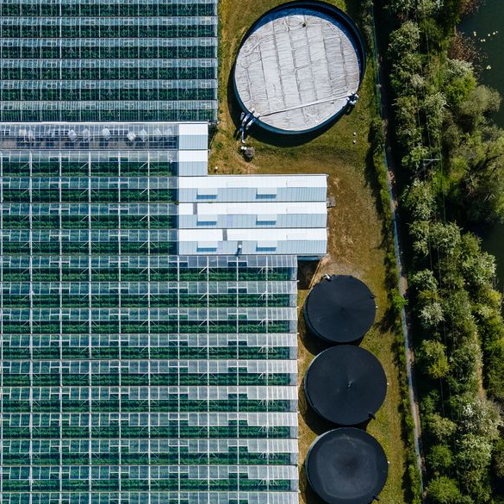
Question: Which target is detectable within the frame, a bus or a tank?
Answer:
tank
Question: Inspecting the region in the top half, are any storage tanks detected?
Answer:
Yes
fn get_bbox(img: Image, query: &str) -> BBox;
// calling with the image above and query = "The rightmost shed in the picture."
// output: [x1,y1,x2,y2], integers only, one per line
[179,122,327,261]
